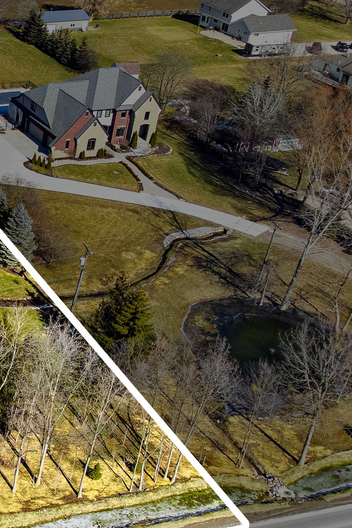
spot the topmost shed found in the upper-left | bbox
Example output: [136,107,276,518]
[32,8,93,34]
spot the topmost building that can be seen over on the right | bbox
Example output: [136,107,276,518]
[194,0,302,41]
